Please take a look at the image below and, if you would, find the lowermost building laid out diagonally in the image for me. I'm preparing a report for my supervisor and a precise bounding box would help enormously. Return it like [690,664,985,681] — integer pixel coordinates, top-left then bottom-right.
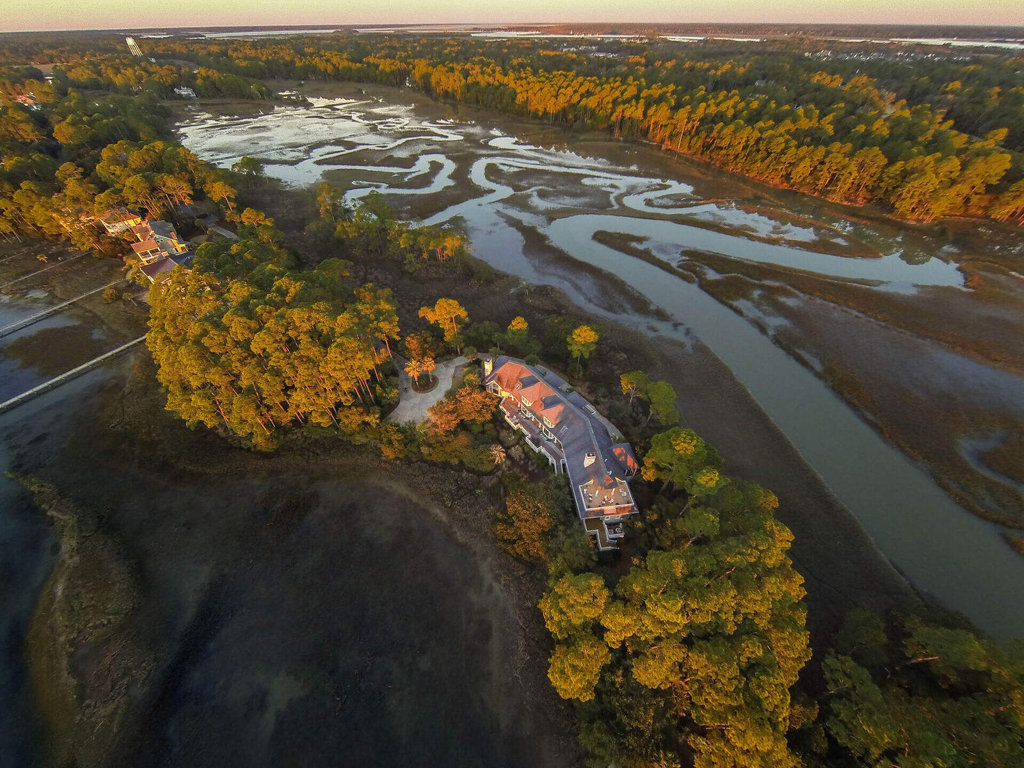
[480,354,647,555]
